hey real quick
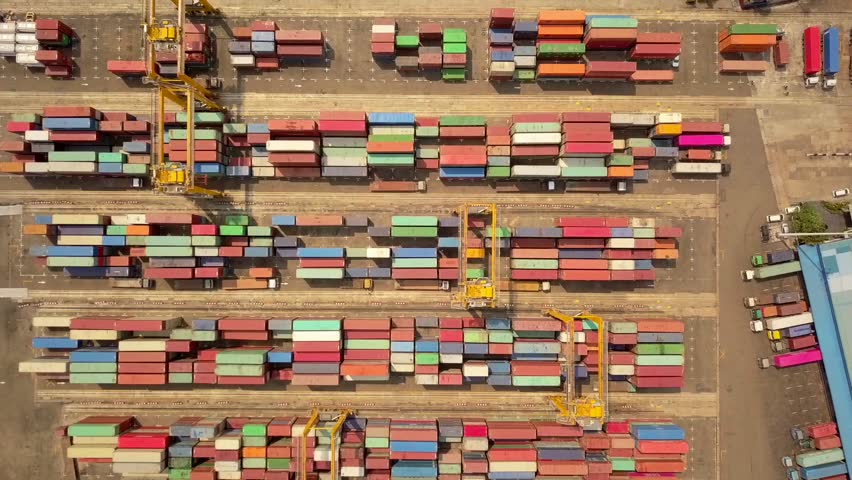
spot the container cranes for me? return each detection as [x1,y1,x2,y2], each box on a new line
[448,203,498,309]
[296,408,355,480]
[146,0,223,97]
[154,88,231,197]
[542,307,607,428]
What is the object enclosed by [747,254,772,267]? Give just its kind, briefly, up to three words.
vehicle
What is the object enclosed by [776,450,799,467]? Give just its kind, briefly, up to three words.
vehicle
